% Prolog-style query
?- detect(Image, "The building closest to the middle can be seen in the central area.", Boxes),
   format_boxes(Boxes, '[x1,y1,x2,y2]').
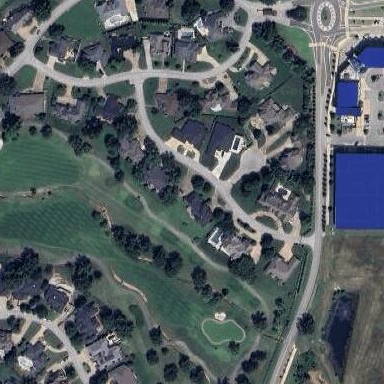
[183,191,216,220]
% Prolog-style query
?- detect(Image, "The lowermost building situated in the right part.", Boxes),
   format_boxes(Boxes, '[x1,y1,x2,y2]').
[264,252,300,284]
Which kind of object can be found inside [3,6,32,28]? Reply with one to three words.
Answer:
house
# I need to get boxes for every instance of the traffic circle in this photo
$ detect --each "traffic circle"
[311,0,342,38]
